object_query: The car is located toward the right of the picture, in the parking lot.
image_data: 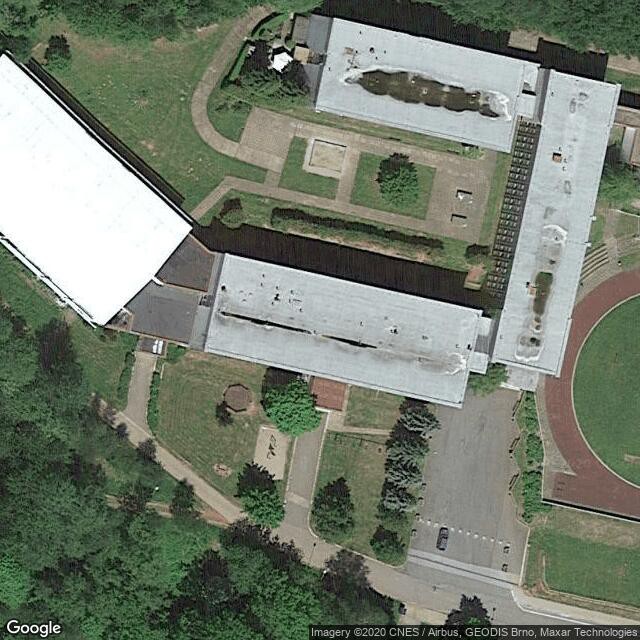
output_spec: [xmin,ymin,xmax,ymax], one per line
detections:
[437,528,449,549]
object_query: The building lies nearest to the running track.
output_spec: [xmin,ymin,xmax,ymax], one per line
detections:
[481,59,621,378]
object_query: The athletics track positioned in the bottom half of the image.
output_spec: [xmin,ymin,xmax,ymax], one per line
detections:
[545,269,640,520]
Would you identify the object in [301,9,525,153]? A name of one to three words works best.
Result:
building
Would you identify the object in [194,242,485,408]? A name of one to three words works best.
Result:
building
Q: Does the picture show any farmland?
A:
No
